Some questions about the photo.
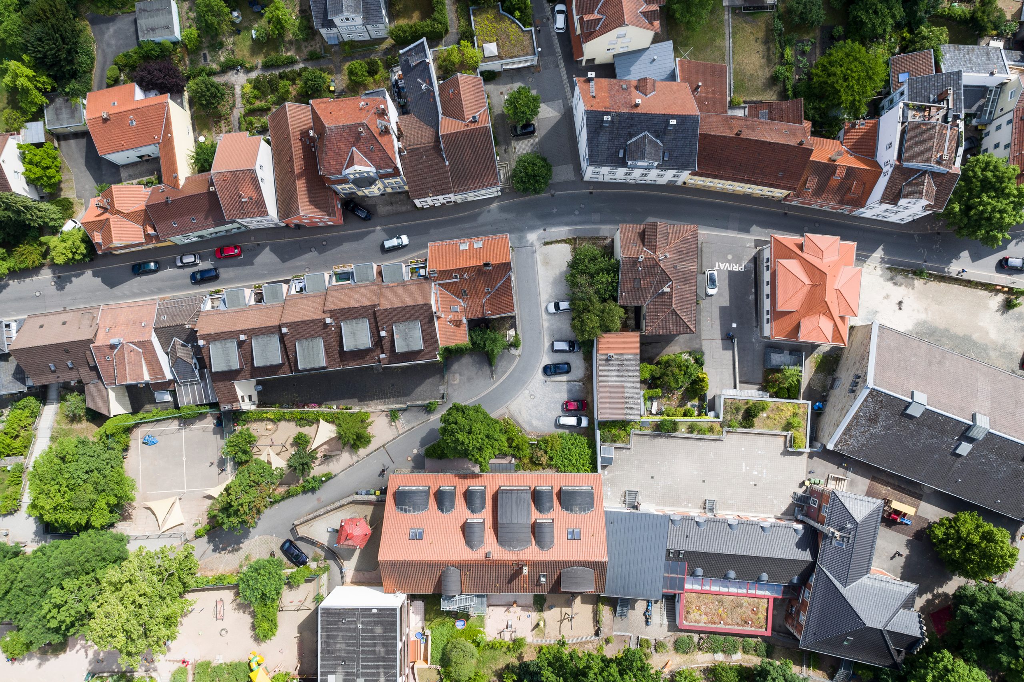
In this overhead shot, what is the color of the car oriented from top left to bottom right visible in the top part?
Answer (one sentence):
In this view, the car oriented from top left to bottom right visible in the top part is black.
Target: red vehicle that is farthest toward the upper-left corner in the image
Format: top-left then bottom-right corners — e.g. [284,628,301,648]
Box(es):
[216,245,243,258]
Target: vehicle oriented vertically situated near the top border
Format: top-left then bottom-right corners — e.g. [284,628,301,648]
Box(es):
[554,5,567,33]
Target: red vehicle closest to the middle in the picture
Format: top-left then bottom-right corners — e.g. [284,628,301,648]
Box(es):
[563,399,587,412]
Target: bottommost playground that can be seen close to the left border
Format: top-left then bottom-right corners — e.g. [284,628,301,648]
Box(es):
[0,580,320,682]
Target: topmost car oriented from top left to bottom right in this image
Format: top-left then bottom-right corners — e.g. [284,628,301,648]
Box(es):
[343,198,373,222]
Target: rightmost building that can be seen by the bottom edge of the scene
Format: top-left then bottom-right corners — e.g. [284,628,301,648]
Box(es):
[780,482,919,672]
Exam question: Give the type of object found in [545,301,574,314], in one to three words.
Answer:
vehicle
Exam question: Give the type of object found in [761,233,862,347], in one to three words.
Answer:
house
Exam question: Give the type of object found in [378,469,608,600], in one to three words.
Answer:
building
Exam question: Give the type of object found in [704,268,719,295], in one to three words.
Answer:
car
